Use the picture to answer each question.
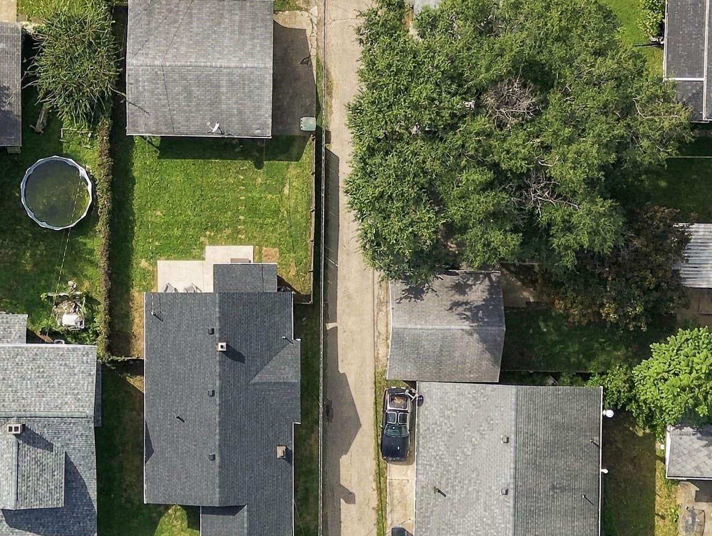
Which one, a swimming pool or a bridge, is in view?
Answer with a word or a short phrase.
swimming pool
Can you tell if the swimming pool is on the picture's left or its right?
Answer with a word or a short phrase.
left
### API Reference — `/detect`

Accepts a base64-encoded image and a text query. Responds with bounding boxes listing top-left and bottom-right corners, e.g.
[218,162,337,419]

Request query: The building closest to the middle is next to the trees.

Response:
[389,271,505,381]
